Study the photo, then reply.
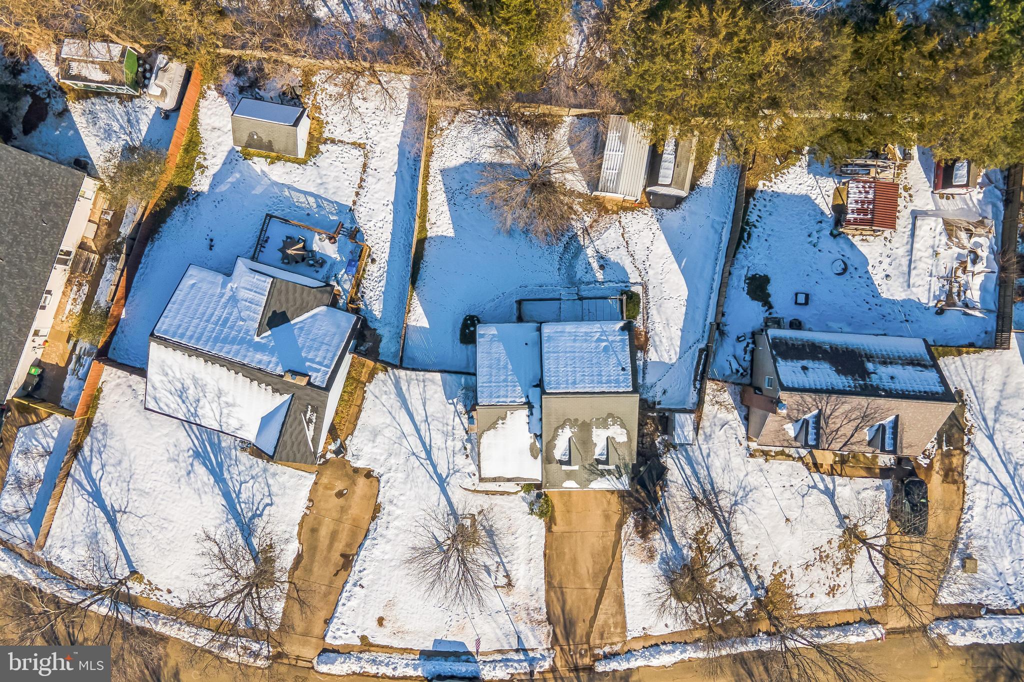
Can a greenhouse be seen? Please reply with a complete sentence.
Yes, I can see a greenhouse in this picture.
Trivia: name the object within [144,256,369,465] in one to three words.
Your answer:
house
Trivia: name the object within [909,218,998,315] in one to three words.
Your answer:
greenhouse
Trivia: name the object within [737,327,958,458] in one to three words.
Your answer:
house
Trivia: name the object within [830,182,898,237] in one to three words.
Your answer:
shed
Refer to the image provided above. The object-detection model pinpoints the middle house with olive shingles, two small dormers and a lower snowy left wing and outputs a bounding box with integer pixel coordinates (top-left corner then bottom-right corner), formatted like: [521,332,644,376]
[467,320,639,492]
